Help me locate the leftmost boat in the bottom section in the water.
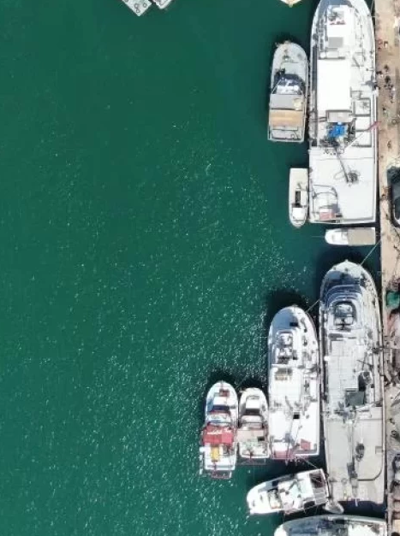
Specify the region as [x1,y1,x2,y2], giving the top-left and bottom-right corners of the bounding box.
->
[200,380,237,478]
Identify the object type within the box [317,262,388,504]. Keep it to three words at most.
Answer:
ship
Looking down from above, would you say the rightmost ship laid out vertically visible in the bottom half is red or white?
white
